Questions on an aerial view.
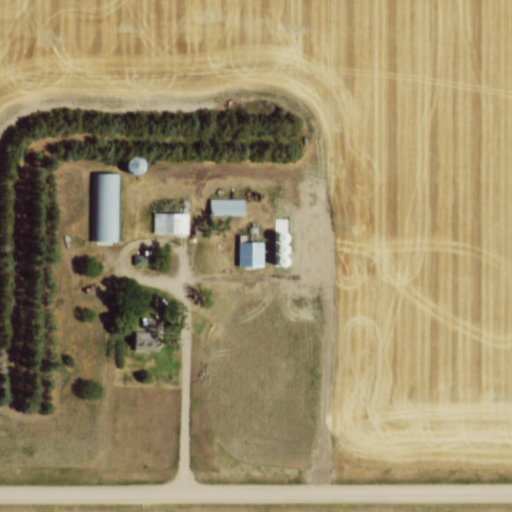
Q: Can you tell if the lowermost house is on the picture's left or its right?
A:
left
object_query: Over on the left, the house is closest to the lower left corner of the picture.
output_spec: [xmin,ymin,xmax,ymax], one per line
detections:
[136,330,162,354]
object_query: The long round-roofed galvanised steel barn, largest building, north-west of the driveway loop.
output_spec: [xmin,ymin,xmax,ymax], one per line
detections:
[94,174,120,244]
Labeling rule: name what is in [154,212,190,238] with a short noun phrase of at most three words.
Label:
shed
